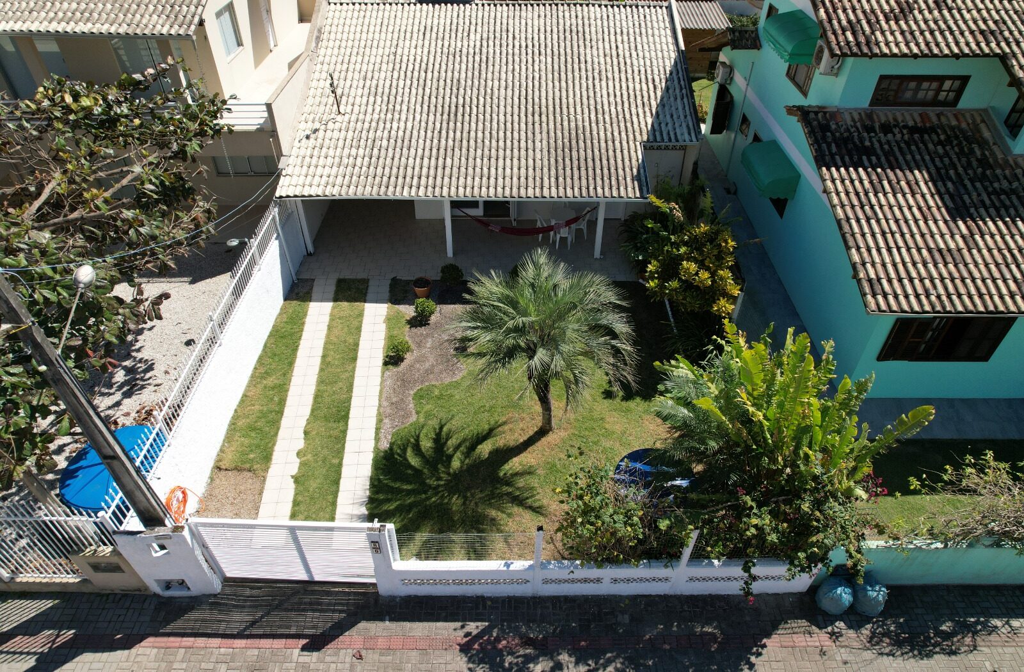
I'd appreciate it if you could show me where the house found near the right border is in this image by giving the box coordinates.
[707,0,1024,397]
